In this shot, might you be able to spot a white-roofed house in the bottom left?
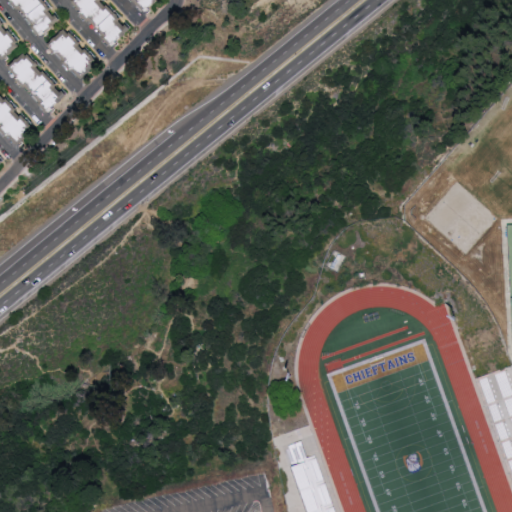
No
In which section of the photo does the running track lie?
bottom right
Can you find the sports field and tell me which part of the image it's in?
bottom right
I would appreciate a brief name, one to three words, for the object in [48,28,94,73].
house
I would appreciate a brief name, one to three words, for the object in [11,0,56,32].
house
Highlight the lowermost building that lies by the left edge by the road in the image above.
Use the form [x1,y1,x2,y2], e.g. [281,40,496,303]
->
[0,94,30,139]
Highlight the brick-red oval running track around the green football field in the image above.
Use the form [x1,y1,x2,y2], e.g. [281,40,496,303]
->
[299,286,512,512]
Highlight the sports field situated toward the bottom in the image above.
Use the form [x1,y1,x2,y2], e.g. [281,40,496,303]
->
[320,307,496,512]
